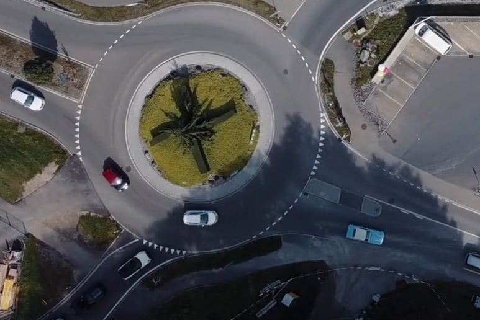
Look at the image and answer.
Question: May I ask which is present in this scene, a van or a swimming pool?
van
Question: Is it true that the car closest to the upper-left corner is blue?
No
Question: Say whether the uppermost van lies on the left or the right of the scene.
right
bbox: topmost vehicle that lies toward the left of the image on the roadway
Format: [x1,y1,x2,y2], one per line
[8,86,47,111]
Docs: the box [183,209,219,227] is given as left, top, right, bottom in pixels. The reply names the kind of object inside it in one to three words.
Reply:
car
